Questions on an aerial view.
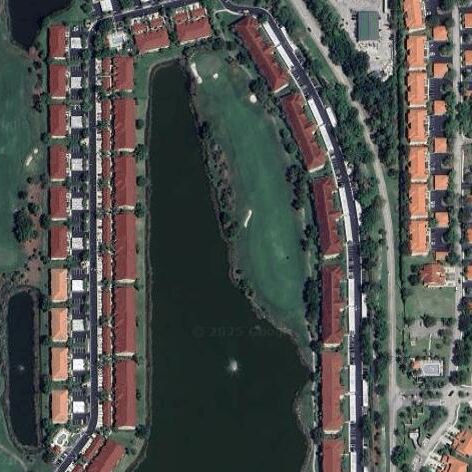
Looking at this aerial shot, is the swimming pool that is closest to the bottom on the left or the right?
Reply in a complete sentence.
It is on the left.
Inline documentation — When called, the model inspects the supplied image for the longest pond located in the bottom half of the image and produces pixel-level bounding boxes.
[8,294,39,448]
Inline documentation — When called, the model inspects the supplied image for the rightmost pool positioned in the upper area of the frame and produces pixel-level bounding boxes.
[109,32,128,49]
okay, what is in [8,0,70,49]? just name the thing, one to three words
pond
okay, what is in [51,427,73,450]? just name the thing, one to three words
swimming pool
